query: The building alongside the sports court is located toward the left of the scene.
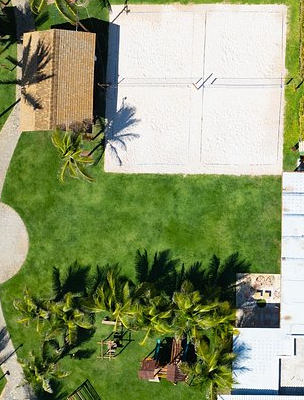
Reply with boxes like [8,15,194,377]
[20,29,101,135]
